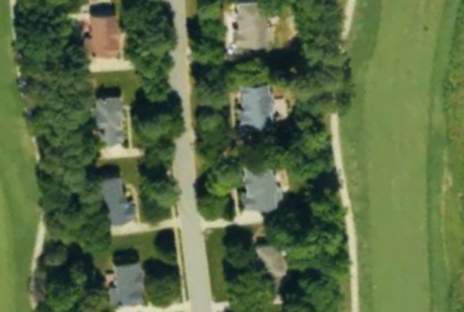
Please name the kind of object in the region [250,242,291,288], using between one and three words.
house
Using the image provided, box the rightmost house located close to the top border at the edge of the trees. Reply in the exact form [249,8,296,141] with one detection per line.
[230,3,274,54]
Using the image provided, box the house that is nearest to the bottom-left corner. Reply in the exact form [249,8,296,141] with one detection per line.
[106,263,142,312]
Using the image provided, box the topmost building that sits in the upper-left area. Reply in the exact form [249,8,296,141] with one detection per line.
[80,16,120,62]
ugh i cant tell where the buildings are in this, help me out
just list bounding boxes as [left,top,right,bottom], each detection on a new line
[80,16,120,62]
[106,263,142,312]
[230,3,274,54]
[250,242,291,288]
[93,100,123,150]
[99,176,136,229]
[238,166,283,214]
[237,85,272,132]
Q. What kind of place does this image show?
golf course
